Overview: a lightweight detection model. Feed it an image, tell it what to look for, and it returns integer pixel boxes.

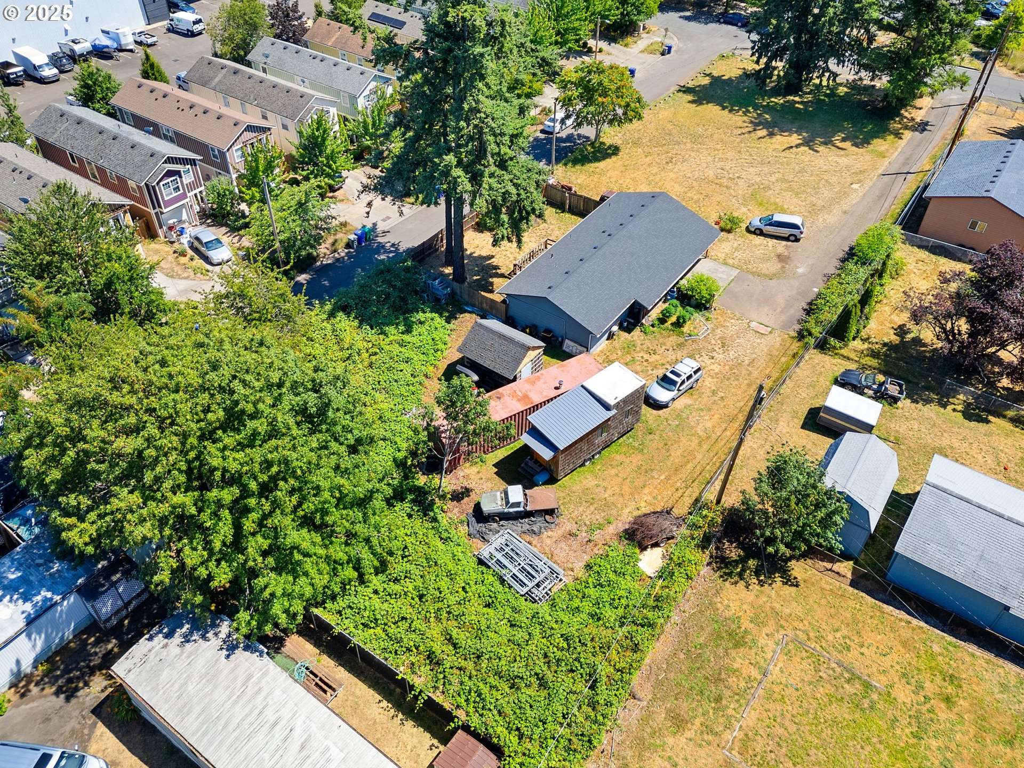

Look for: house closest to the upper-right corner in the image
[919,141,1024,256]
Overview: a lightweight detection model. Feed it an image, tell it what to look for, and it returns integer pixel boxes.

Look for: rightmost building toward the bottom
[881,445,1024,644]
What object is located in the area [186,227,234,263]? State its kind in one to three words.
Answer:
car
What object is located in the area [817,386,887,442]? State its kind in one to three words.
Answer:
trailer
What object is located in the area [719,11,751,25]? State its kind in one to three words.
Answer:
car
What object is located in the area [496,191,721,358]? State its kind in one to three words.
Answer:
house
